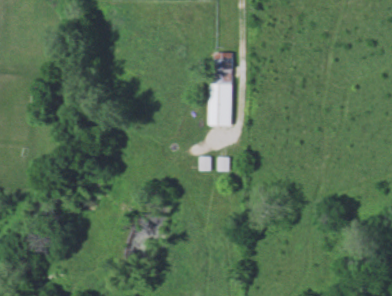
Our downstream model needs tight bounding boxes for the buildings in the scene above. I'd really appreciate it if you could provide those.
[128,220,160,254]
[207,83,232,127]
[198,156,212,172]
[214,52,233,82]
[216,156,230,172]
